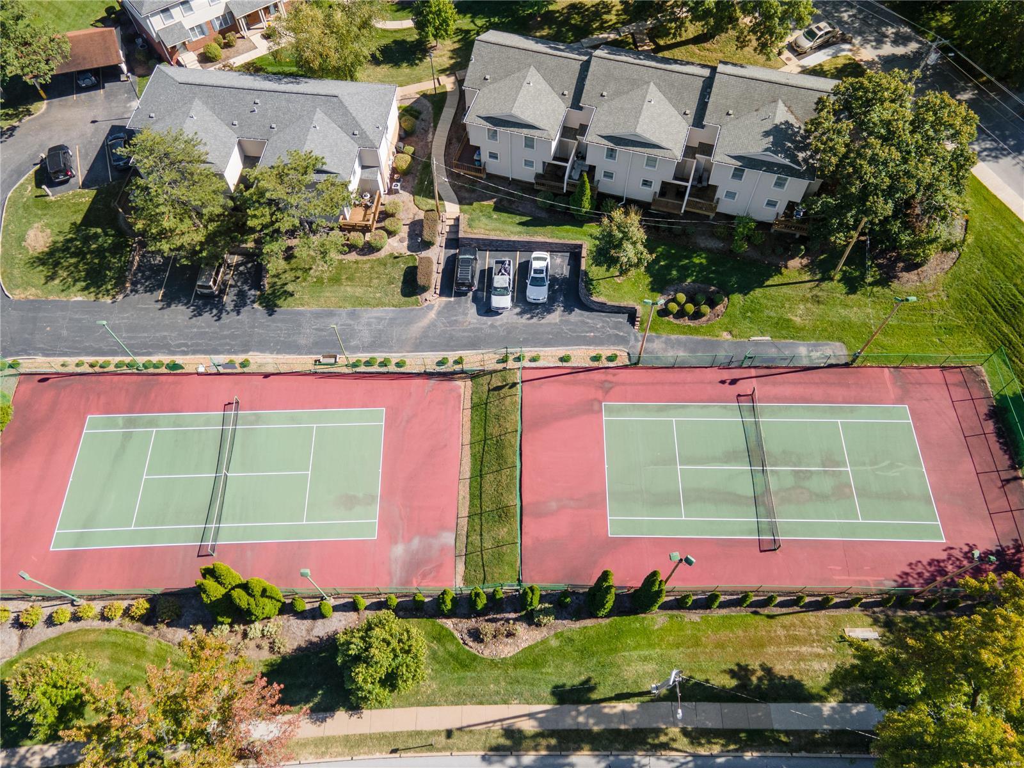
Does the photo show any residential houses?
Yes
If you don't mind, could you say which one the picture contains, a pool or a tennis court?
tennis court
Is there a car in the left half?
Yes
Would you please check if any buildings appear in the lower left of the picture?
No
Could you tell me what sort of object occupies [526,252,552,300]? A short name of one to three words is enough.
car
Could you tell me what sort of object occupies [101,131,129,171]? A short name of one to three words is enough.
car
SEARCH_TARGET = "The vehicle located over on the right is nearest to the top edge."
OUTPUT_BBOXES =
[794,25,841,55]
